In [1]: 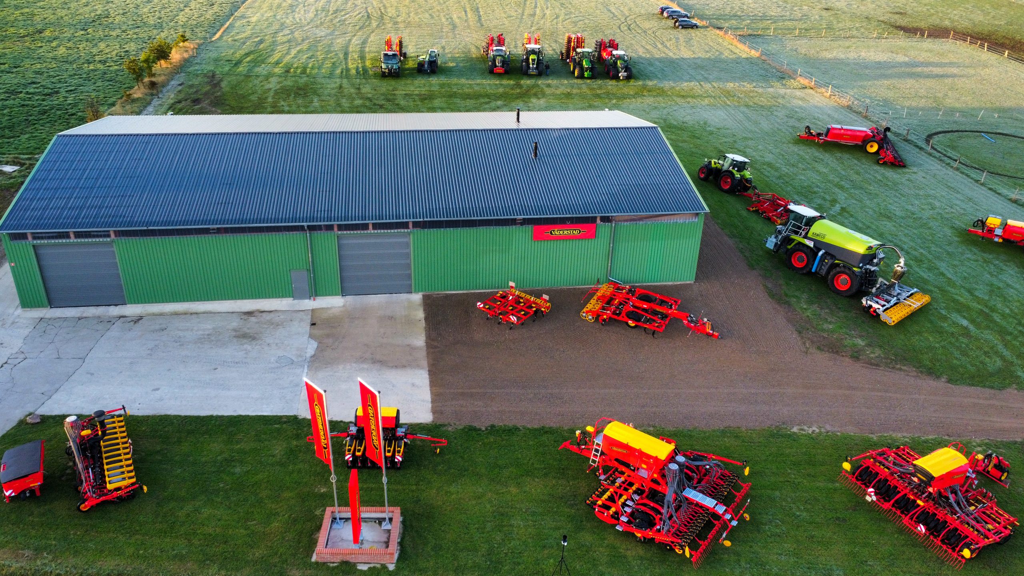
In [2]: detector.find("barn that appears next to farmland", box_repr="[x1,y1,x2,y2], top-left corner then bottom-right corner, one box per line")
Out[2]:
[0,107,710,310]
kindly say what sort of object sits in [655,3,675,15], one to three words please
vehicle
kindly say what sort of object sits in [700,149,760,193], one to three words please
work vehicle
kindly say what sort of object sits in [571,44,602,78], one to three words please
work vehicle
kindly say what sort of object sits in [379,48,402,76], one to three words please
truck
